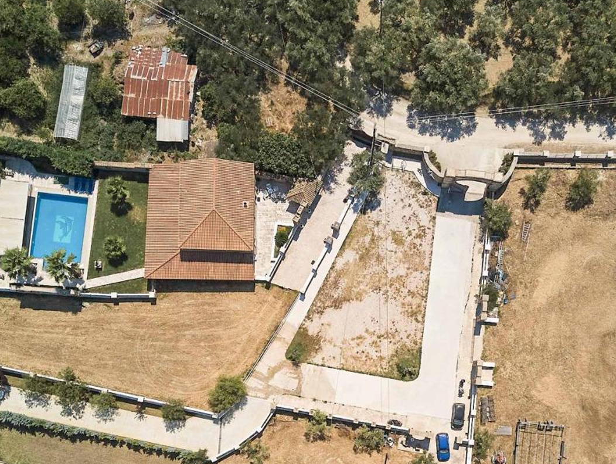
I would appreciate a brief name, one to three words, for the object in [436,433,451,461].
car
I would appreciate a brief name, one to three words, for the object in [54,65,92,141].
shed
